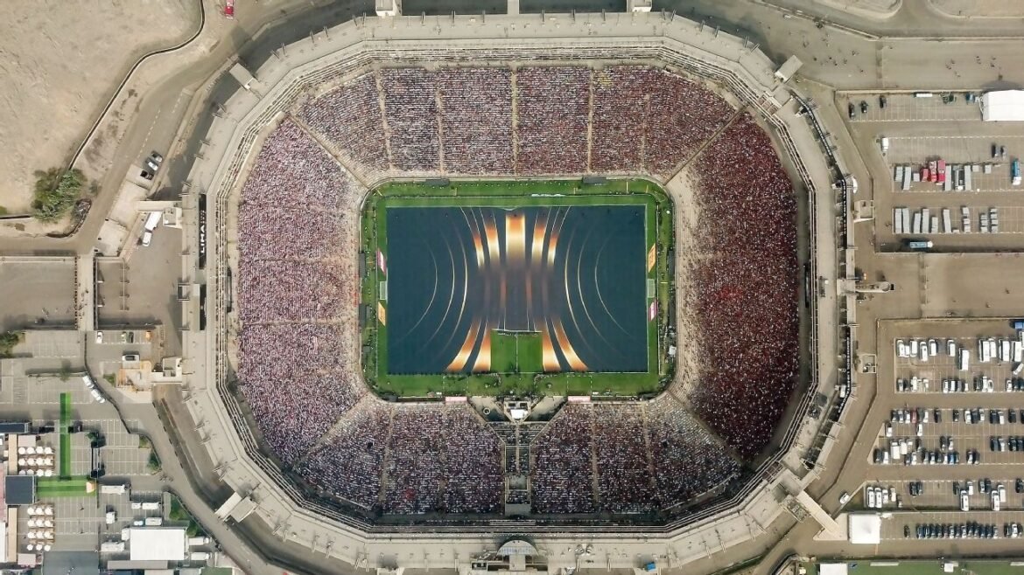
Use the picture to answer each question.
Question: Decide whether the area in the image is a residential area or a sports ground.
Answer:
sports ground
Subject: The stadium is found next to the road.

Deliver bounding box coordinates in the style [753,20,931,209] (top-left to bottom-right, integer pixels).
[162,0,879,575]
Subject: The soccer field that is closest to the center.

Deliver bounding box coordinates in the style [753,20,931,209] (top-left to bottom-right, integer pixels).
[361,179,674,401]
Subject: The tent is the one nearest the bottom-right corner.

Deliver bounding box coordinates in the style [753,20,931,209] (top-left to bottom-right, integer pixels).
[847,513,881,544]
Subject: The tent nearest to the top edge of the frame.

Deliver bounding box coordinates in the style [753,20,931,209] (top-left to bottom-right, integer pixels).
[980,91,1024,122]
